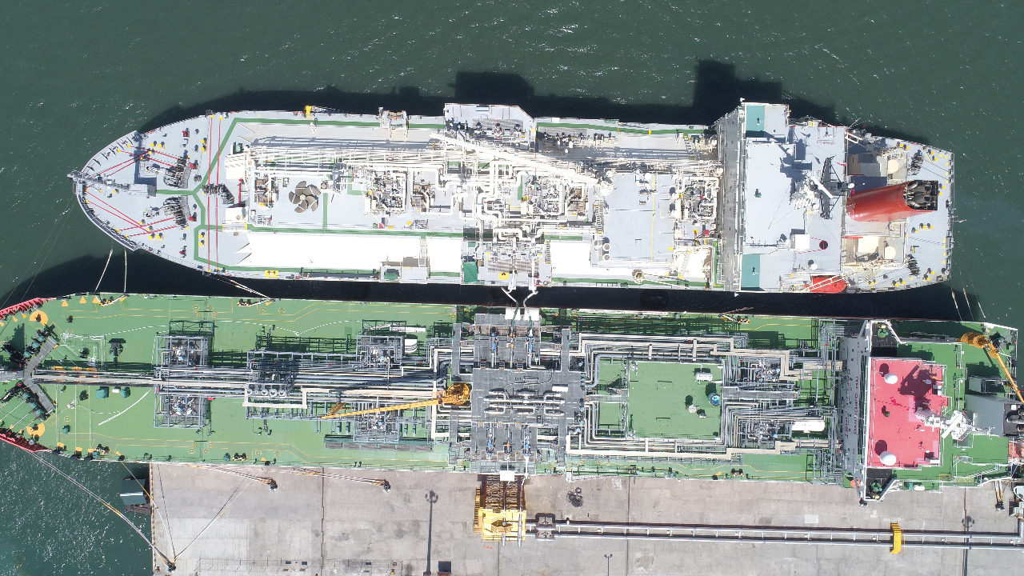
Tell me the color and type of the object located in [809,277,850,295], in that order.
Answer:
red boat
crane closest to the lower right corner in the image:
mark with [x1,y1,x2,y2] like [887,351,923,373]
[940,331,1024,401]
